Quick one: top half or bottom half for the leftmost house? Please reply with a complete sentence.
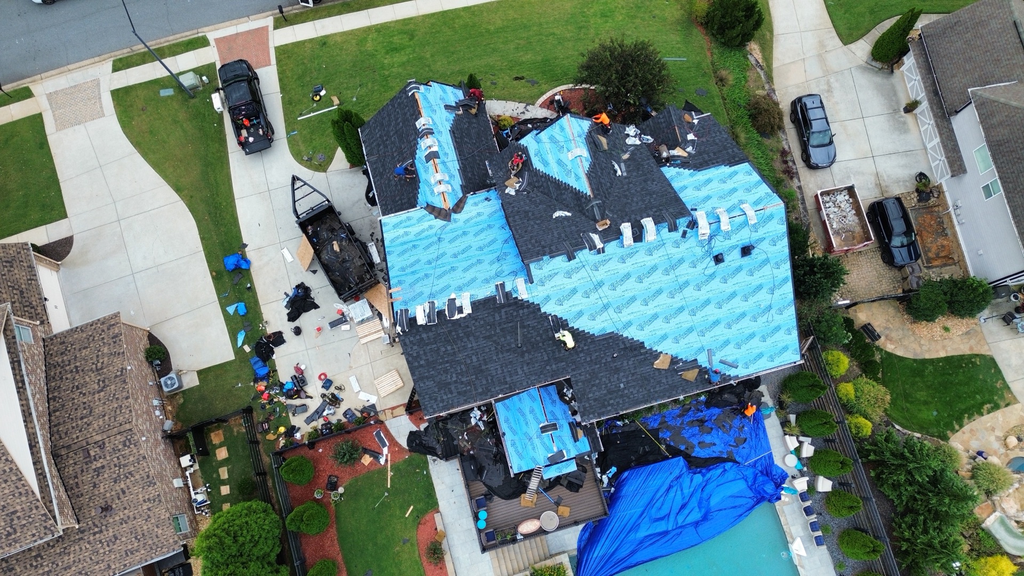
The leftmost house sits in the bottom half of the picture.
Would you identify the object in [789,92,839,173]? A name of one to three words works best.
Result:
car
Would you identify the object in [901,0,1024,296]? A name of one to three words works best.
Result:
house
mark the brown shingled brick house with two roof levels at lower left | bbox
[0,242,197,576]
